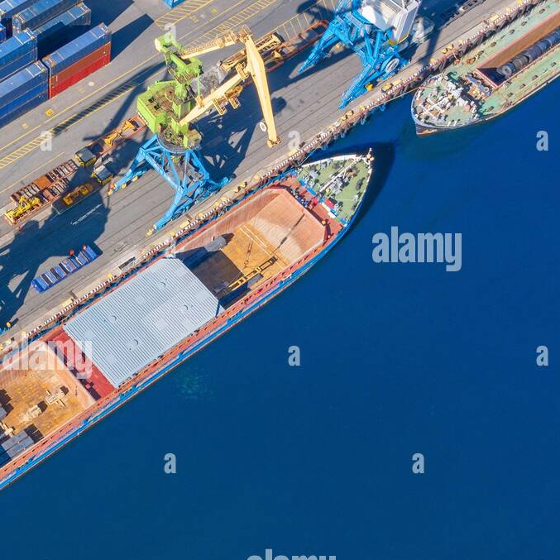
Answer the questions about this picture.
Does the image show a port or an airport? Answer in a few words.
port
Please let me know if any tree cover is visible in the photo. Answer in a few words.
No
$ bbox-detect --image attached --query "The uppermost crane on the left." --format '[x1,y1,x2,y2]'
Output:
[102,21,278,238]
